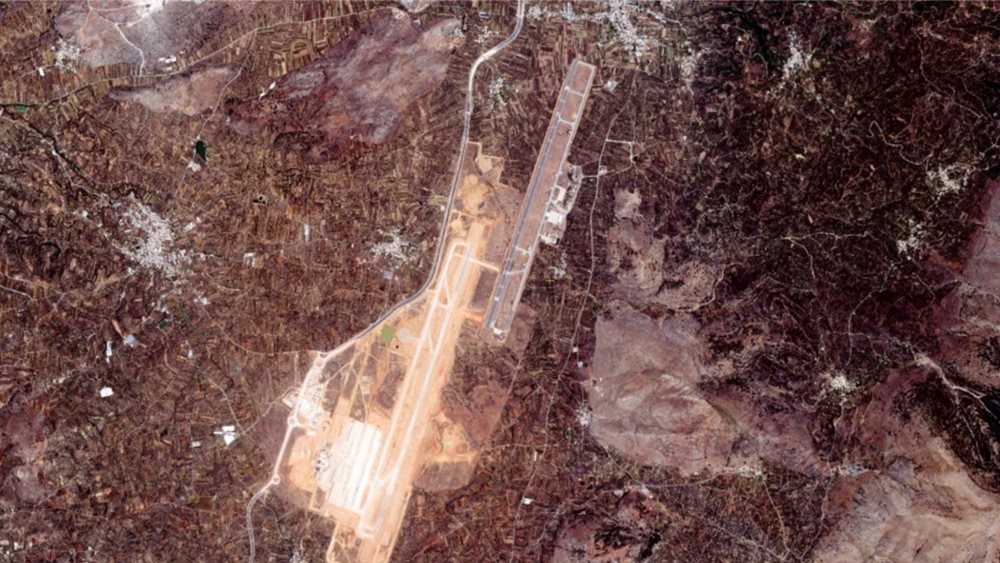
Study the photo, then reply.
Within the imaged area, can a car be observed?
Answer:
No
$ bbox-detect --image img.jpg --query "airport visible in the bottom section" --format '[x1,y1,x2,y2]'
[283,141,528,563]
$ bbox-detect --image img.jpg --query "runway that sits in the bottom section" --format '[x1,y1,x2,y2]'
[372,245,473,543]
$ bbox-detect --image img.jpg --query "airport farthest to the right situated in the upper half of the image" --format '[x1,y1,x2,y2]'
[483,59,600,339]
